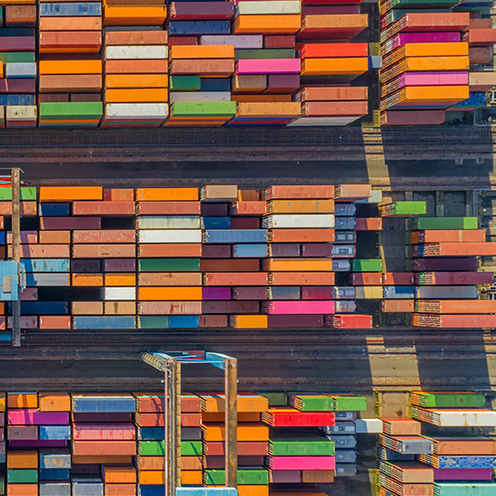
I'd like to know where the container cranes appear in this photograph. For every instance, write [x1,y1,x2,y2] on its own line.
[137,349,243,496]
[0,166,27,342]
